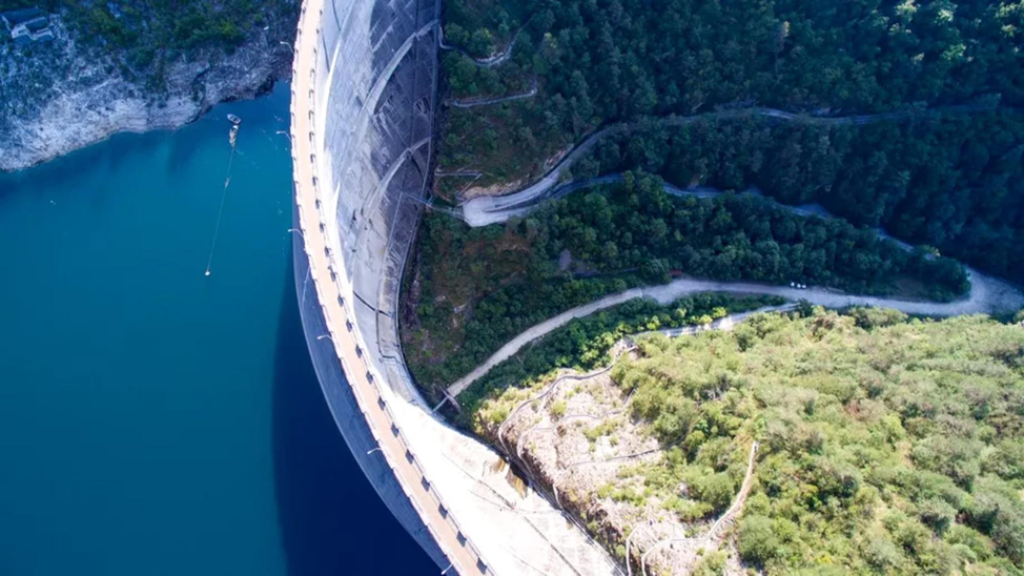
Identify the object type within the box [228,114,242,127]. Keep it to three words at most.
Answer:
boat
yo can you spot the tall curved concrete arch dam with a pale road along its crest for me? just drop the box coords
[288,0,633,576]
